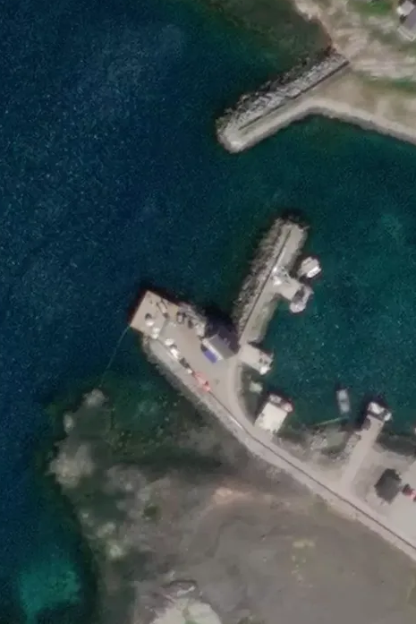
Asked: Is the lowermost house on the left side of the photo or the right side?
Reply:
right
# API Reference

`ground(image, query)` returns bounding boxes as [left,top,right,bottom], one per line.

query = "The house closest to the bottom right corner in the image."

[372,468,406,502]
